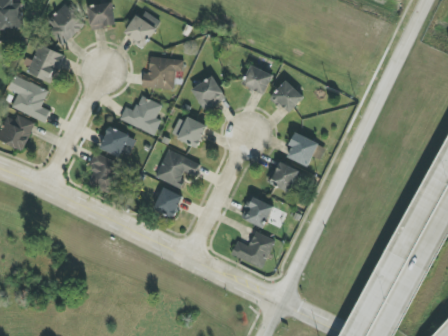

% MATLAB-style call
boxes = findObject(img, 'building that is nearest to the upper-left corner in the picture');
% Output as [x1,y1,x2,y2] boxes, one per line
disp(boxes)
[0,0,24,29]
